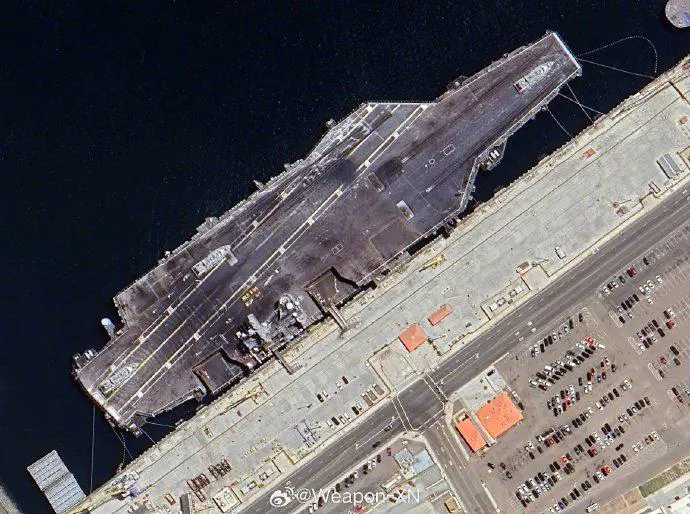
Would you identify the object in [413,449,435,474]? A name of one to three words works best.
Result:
building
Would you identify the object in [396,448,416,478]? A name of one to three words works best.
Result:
building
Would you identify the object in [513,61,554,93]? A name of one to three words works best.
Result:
boat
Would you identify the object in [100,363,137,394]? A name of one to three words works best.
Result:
boat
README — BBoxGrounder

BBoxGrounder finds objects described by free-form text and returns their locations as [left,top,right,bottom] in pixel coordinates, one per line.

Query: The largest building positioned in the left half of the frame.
[214,487,241,513]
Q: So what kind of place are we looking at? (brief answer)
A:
port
